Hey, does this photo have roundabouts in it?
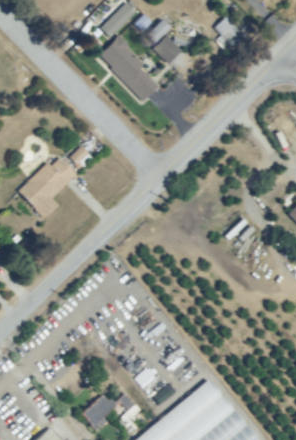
No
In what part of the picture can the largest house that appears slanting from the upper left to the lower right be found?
top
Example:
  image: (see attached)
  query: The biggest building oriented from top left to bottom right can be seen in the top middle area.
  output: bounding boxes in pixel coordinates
[101,38,160,100]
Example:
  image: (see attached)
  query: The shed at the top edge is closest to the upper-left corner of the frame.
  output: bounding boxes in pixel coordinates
[102,2,136,35]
